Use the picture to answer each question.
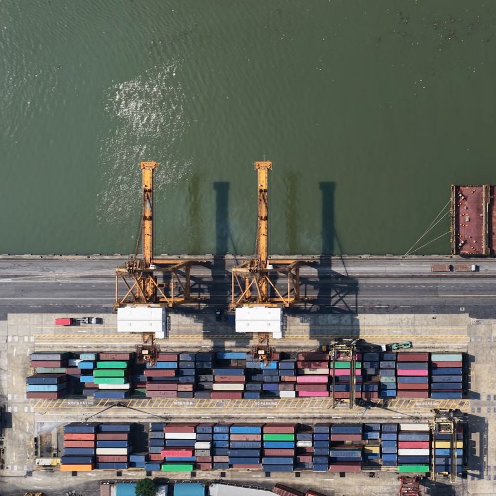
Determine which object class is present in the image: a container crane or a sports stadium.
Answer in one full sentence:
Looking from above, you can make out a container crane.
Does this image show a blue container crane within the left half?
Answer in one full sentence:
No, there is no blue container crane within the left half.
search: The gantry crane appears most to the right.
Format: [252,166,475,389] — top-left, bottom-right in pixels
[427,404,461,482]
